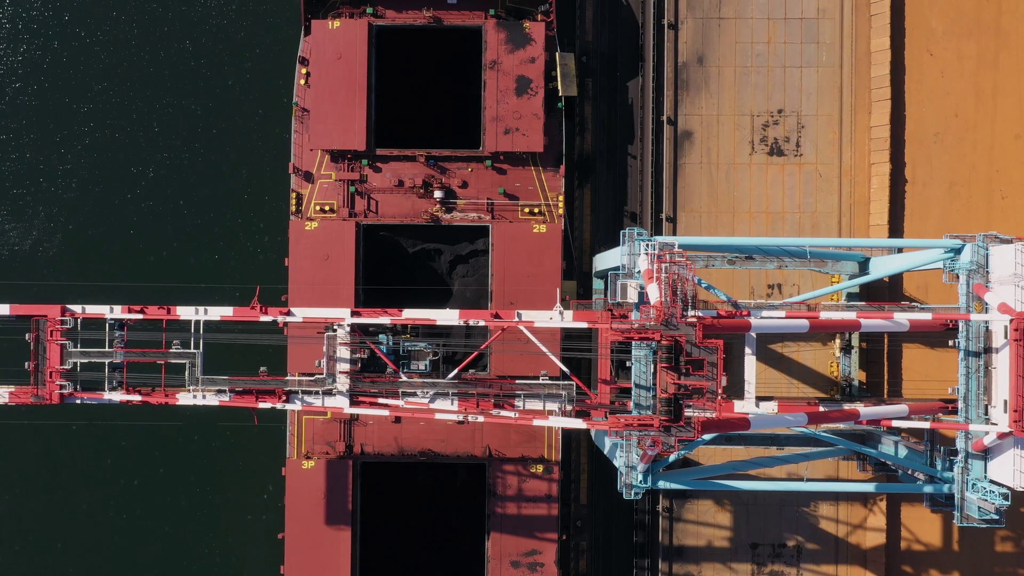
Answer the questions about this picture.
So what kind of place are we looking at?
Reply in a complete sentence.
This looks like a port.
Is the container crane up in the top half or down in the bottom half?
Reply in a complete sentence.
You can find the container crane in the bottom half.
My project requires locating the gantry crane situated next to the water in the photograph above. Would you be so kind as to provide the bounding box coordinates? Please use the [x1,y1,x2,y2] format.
[0,226,1024,526]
